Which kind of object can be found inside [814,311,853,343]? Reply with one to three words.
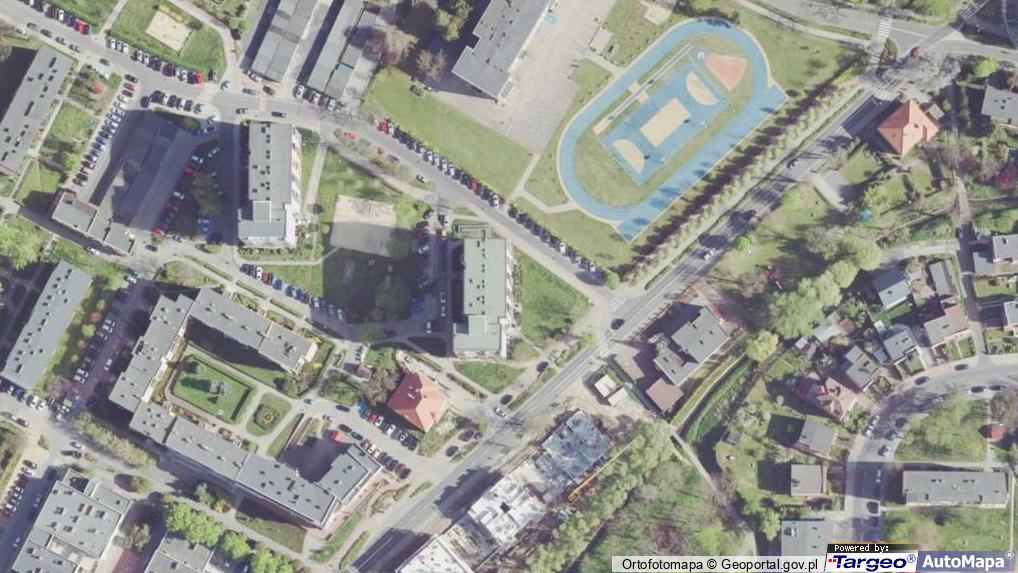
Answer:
shed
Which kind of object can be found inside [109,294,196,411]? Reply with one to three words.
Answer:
building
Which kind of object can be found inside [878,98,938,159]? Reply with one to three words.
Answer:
house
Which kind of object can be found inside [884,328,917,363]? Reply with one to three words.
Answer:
house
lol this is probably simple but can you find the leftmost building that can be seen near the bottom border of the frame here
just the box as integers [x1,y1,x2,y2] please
[10,468,134,573]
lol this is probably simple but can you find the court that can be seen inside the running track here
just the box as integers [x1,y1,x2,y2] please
[597,61,733,188]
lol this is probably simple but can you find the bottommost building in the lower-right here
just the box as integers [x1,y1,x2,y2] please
[779,517,832,573]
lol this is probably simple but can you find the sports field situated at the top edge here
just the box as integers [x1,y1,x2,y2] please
[146,10,192,52]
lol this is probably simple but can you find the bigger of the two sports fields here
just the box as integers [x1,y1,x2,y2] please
[330,196,394,257]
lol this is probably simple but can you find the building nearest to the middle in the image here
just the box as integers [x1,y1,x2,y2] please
[452,238,516,359]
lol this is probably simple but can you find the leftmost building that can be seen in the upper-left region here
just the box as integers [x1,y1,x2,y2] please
[0,45,82,175]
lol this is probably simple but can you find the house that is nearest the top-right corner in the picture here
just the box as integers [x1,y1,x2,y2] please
[980,84,1018,126]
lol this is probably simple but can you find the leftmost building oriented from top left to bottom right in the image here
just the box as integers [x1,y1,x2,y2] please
[52,193,136,257]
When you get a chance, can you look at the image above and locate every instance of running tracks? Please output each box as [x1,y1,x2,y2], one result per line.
[557,14,787,242]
